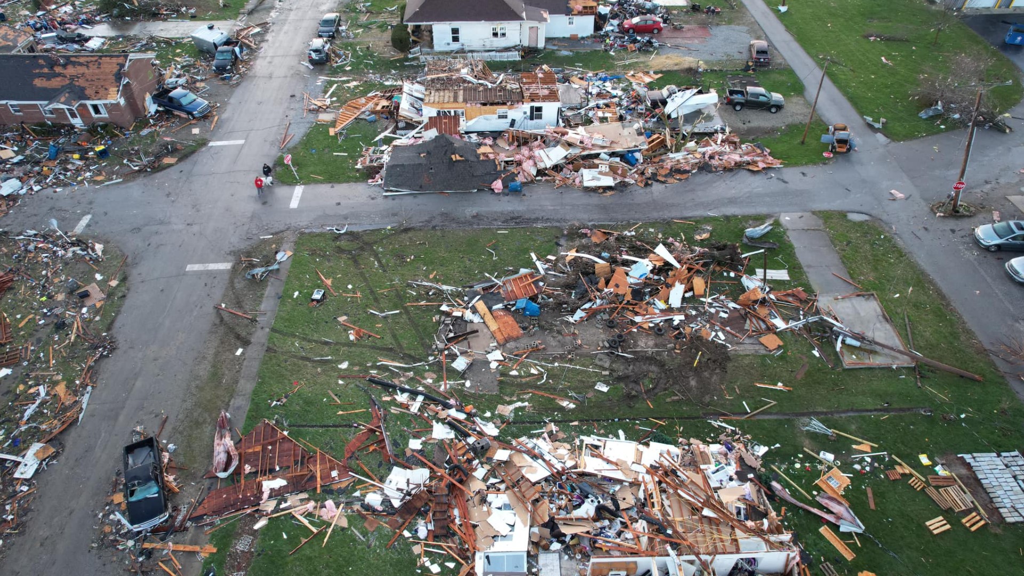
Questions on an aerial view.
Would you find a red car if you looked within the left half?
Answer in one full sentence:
No, I see no red car within the left half.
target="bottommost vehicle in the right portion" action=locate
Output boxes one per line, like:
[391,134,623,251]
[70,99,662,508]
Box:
[1004,259,1024,285]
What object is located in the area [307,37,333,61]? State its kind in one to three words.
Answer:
car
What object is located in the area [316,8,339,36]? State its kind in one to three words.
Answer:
car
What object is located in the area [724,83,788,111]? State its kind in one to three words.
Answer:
truck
